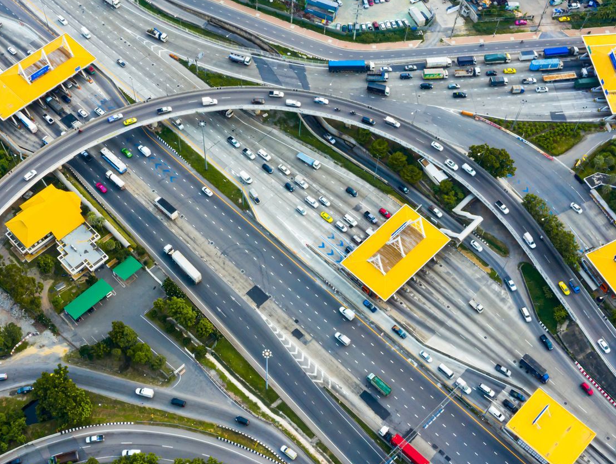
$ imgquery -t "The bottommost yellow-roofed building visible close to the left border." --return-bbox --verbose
[4,184,109,281]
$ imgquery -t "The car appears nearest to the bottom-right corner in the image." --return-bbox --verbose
[579,380,594,396]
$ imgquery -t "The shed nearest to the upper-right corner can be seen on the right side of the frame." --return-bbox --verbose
[417,158,447,190]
